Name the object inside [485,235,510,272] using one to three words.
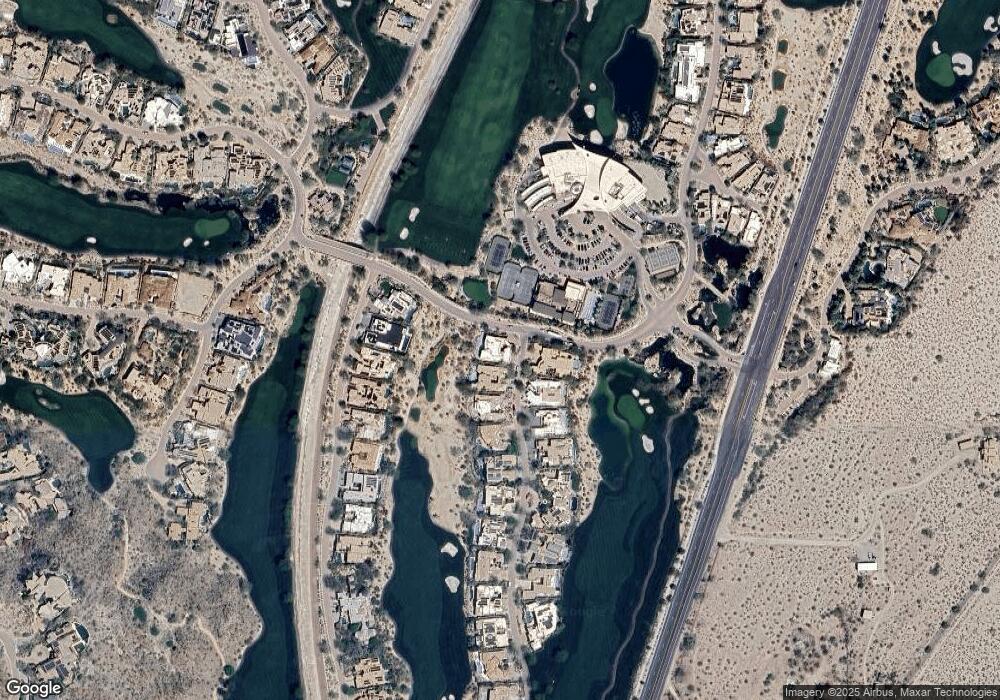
tennis court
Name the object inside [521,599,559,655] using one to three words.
house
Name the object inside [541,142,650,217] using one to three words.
building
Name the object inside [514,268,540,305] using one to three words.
tennis court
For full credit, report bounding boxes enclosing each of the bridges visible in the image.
[308,233,380,273]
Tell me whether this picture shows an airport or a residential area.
residential area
